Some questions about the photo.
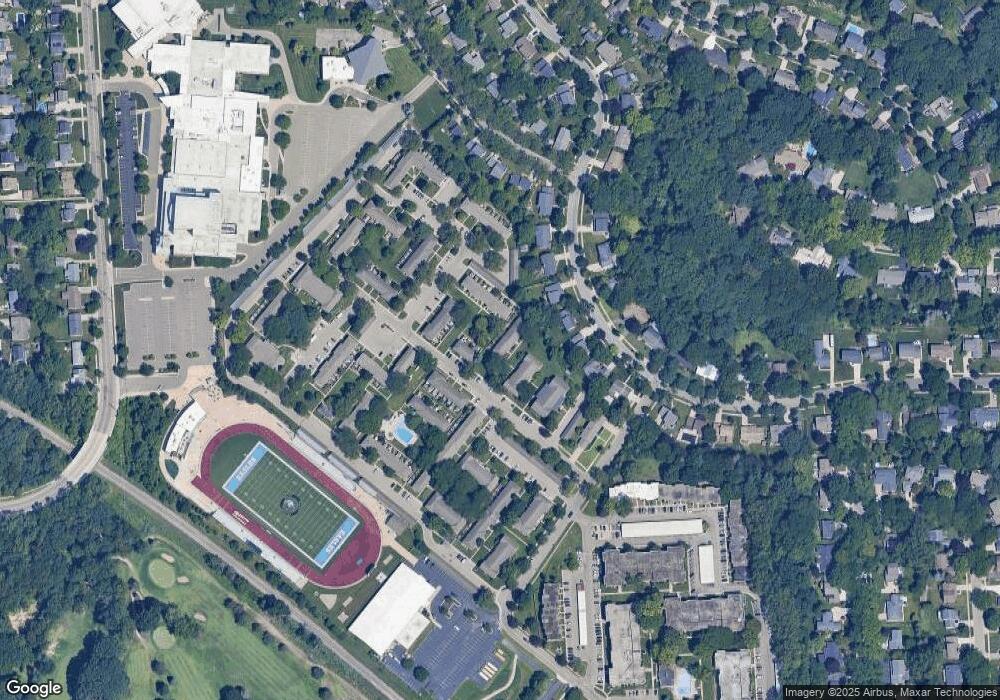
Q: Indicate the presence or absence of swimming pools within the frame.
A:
Yes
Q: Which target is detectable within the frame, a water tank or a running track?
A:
running track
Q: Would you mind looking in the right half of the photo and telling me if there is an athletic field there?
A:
No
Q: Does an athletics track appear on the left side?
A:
Yes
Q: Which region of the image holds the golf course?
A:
bottom left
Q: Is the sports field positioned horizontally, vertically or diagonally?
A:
diagonally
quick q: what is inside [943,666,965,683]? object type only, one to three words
house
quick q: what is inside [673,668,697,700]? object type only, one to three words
swimming pool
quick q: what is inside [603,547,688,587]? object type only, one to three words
building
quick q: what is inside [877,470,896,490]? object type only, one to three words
house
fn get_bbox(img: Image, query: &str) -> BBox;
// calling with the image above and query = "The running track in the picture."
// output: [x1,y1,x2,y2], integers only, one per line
[189,423,383,588]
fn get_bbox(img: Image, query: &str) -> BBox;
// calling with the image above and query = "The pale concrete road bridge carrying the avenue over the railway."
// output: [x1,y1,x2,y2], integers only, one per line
[55,424,111,486]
